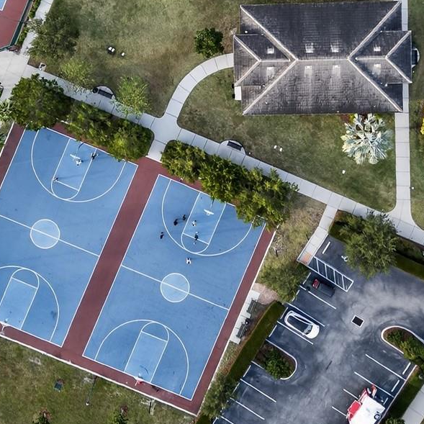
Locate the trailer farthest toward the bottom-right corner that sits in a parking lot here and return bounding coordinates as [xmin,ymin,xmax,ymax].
[346,389,386,424]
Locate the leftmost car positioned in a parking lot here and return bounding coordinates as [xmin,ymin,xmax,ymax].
[282,309,318,337]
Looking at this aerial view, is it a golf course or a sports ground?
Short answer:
sports ground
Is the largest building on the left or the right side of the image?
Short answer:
right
